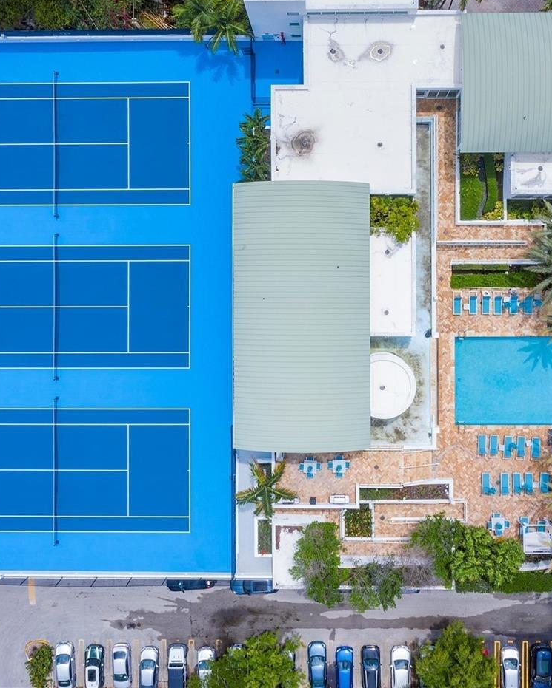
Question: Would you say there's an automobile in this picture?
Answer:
Yes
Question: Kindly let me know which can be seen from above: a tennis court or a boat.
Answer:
tennis court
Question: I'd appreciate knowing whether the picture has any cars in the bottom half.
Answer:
Yes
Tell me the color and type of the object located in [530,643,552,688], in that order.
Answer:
blue car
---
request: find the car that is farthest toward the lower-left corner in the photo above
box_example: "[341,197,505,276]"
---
[51,642,75,688]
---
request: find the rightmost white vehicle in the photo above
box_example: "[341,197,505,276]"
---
[500,645,523,688]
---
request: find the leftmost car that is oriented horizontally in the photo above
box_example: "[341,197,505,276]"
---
[168,579,218,594]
